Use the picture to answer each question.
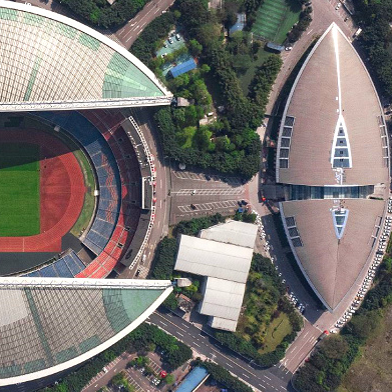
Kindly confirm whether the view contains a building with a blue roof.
Yes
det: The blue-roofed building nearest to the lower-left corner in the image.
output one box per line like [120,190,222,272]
[171,364,209,392]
